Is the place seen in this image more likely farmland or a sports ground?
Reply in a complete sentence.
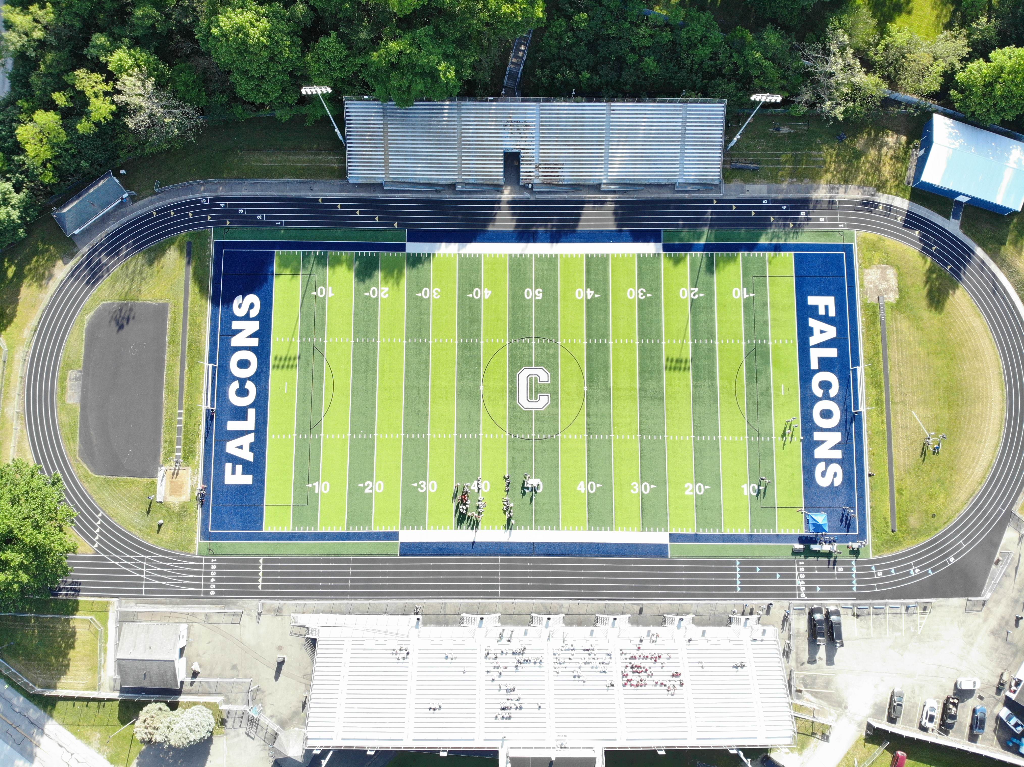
It's a sports ground.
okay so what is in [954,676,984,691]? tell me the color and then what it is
white car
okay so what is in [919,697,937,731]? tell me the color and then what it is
white car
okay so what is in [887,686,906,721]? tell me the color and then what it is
gray car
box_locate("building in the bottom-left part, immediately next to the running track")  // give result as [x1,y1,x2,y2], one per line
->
[114,621,197,688]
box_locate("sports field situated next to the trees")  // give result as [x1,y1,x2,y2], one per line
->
[195,229,874,558]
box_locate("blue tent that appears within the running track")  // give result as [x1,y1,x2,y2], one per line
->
[804,511,828,532]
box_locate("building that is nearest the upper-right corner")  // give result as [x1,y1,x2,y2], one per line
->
[912,113,1024,219]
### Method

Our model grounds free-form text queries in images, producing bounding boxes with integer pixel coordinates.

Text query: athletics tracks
[26,196,1024,600]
